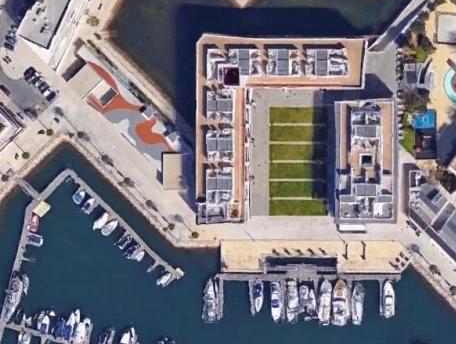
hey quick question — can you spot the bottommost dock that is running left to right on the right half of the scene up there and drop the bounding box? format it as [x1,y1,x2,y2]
[215,262,401,324]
